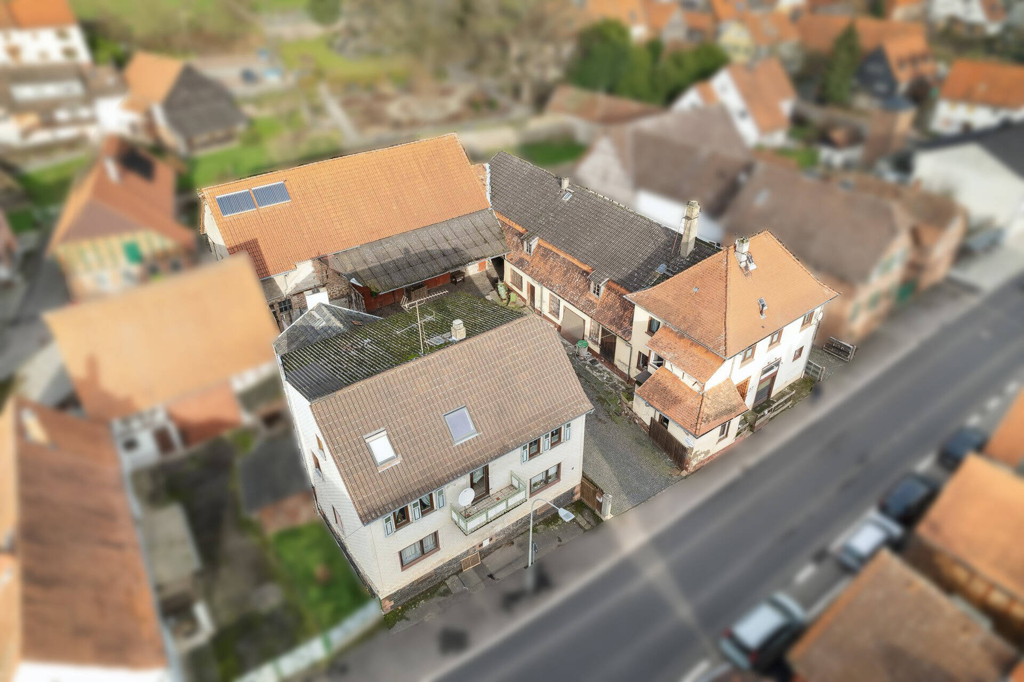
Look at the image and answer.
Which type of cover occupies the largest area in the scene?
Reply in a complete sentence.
The largest share of the image is taken up by buildings.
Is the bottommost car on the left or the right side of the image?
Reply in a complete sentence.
The bottommost car appears in the right half of the scene.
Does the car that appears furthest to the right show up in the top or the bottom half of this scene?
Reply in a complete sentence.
It is in the bottom half that the car that appears furthest to the right appears.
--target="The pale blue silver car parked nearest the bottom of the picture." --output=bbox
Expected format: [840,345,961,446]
[728,593,810,672]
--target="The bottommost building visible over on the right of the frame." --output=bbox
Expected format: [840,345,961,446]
[789,538,1024,682]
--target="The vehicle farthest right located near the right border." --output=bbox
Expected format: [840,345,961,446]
[941,426,996,469]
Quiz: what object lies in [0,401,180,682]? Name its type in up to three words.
house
